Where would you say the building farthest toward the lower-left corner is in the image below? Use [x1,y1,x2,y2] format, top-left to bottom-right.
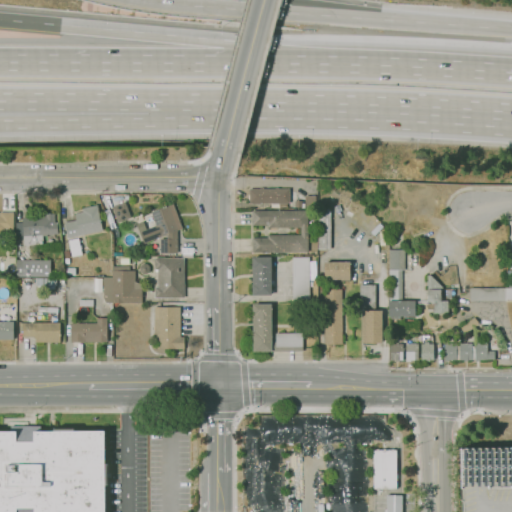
[0,426,106,512]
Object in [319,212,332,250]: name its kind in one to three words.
shed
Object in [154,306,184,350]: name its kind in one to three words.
building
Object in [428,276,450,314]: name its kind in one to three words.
house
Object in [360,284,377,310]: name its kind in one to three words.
building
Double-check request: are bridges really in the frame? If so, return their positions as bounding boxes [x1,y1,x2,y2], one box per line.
[210,0,282,193]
